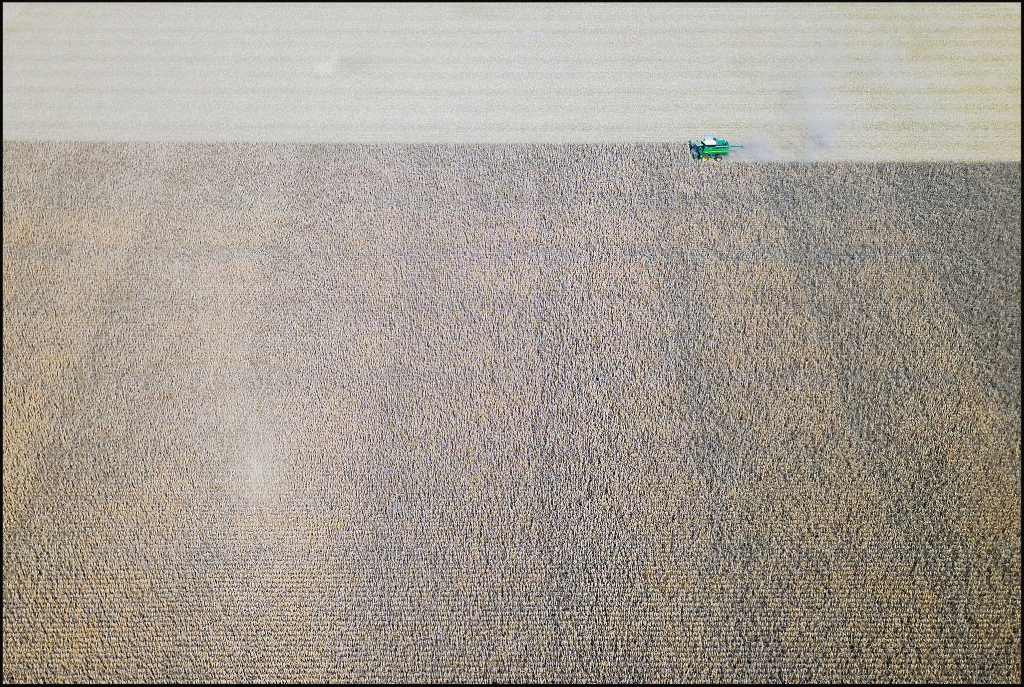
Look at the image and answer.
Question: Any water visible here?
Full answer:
No, there's no water in this view.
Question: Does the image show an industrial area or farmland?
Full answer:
This image shows farmland.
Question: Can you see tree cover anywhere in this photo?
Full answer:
No, tree cover can't be seen anywhere here.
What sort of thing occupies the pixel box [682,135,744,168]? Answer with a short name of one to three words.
work vehicle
